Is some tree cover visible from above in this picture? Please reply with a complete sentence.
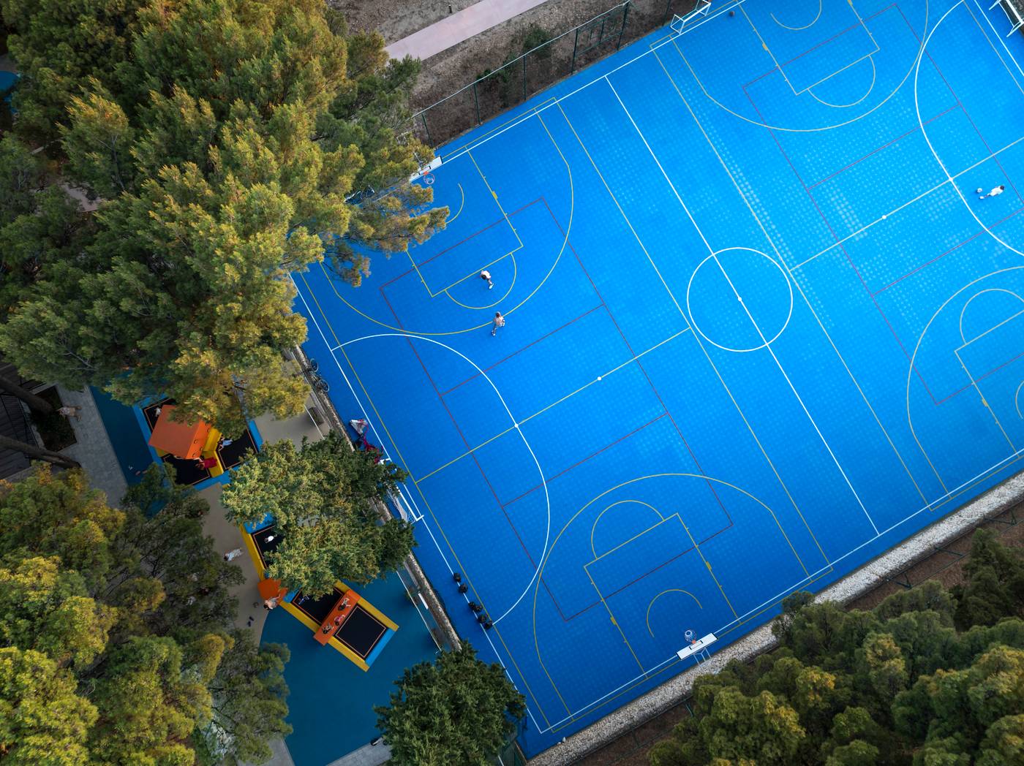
Yes, the picture does contain tree cover.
